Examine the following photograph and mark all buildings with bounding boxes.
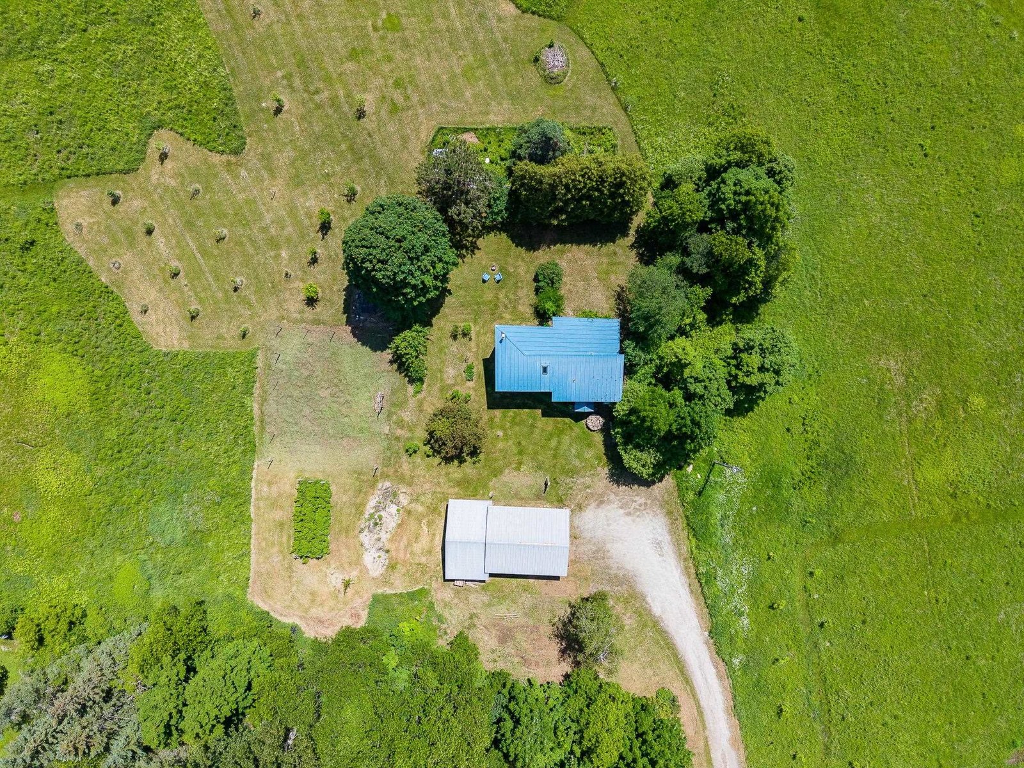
[495,316,625,412]
[444,497,569,580]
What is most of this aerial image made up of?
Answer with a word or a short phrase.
grass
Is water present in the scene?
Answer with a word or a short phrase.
No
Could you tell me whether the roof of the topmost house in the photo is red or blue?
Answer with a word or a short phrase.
blue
